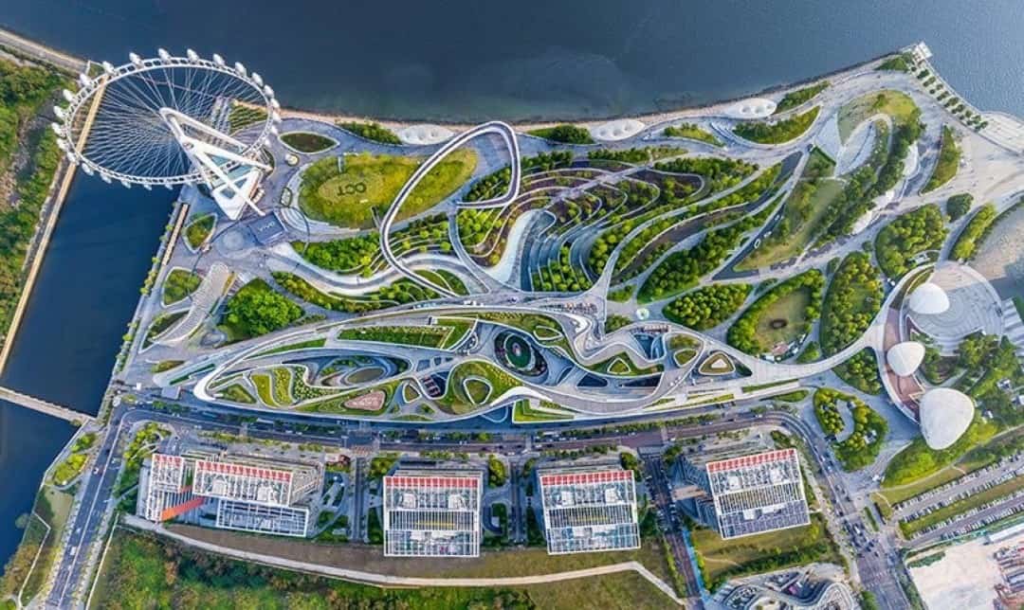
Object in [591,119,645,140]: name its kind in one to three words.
building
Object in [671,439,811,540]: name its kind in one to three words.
building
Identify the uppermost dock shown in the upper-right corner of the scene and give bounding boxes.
[900,40,990,134]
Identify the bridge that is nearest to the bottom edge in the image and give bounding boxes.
[0,386,95,427]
